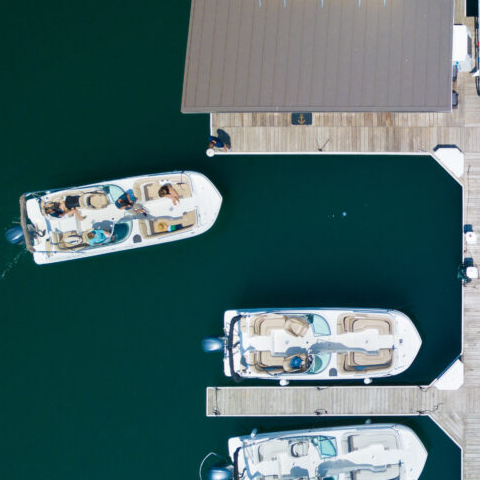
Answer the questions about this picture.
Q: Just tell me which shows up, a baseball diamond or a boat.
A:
boat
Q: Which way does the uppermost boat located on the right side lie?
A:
horizontally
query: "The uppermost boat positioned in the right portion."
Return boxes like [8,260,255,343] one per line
[200,307,422,380]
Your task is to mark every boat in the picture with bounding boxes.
[206,421,427,480]
[7,170,222,266]
[200,307,422,380]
